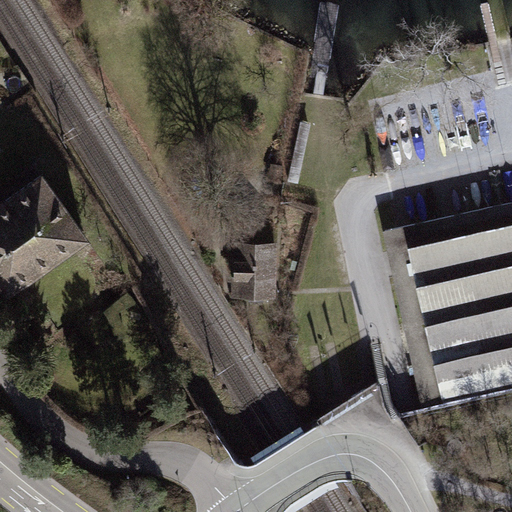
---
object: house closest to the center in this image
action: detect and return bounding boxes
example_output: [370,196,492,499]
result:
[230,244,278,302]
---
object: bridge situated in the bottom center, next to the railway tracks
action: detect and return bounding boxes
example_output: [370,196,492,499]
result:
[248,425,352,512]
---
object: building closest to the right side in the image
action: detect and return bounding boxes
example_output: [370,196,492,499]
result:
[382,201,512,408]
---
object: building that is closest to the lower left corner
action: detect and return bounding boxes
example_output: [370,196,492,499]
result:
[104,294,144,353]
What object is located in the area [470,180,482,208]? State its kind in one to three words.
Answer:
boat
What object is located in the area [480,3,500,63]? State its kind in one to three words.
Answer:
pier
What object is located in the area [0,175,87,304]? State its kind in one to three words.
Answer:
house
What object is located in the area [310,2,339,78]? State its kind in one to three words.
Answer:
pier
